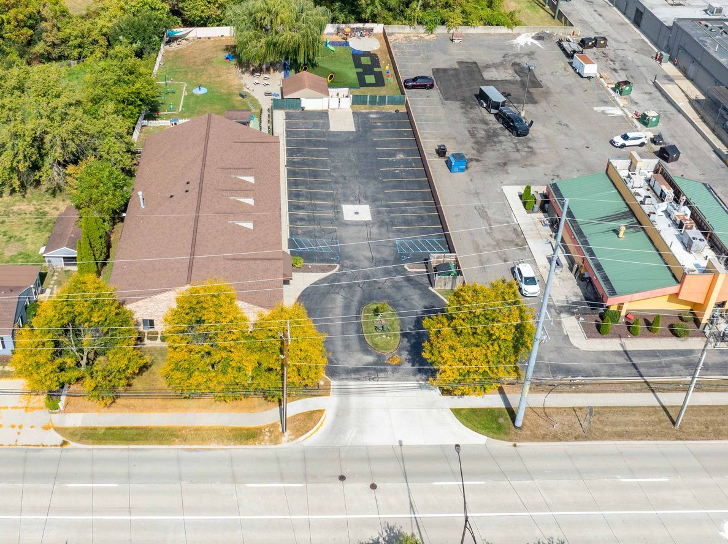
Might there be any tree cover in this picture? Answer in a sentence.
Yes, tree cover shows up in the scene.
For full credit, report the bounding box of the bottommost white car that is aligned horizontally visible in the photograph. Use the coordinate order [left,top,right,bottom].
[611,130,651,148]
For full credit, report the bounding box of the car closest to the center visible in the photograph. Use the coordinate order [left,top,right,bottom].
[507,265,543,298]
